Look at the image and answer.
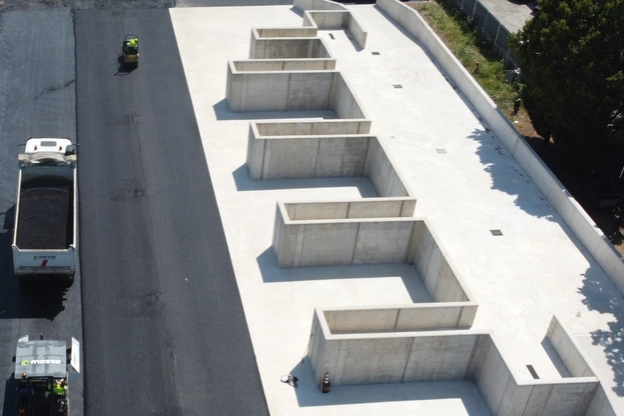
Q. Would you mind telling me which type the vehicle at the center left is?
truck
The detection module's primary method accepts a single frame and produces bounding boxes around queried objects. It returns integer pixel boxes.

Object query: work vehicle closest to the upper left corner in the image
[117,25,139,68]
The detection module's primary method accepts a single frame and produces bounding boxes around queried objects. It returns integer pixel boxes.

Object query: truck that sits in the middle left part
[11,135,83,287]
